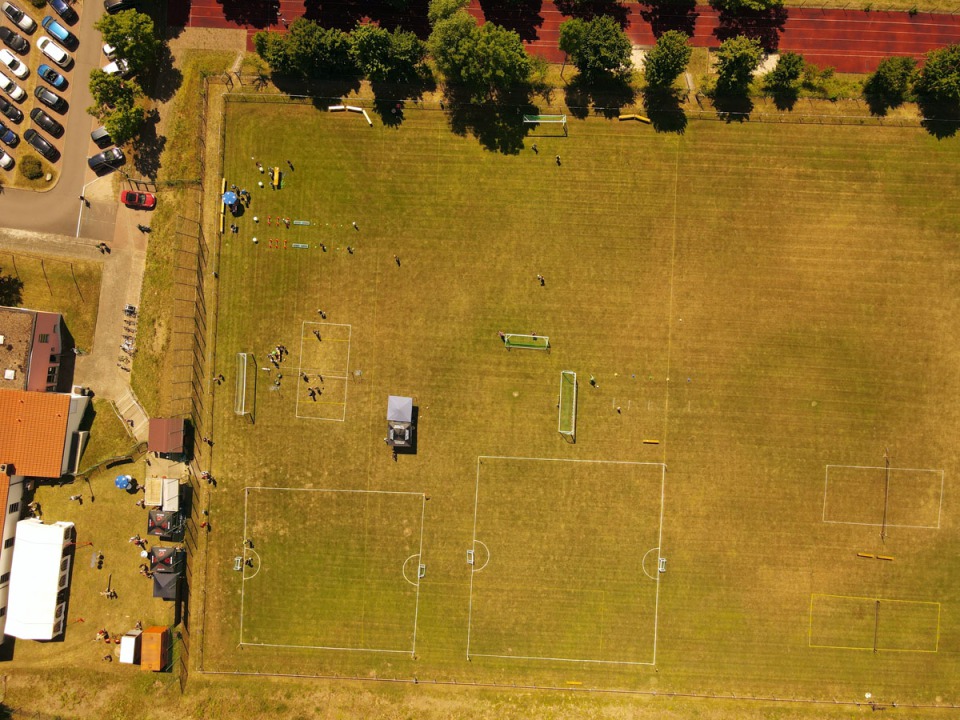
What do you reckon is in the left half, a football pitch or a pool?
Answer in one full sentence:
Visible in the left half is a football pitch.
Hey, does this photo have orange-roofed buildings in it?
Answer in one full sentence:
Yes, there is an orange-roofed building in the image.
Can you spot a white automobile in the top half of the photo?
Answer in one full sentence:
Yes, in the top half of the photo there is a white automobile.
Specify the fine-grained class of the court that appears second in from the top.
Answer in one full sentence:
It turns out the court that appears second in from the top is a tennis court.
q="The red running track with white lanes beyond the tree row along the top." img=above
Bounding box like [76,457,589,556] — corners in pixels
[162,0,960,78]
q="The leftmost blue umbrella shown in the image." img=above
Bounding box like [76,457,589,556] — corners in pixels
[115,475,133,488]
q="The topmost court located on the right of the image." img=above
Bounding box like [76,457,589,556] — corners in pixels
[823,465,944,528]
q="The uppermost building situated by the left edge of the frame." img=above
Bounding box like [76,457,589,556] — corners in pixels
[0,303,79,392]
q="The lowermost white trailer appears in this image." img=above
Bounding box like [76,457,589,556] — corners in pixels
[120,616,142,664]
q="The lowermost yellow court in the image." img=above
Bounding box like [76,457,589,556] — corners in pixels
[809,594,940,652]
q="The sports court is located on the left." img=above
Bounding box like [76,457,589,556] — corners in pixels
[296,322,352,420]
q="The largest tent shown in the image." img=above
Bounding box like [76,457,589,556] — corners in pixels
[4,521,74,646]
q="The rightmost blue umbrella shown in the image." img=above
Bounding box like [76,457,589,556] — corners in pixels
[222,191,237,205]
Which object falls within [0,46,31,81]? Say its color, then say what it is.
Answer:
white car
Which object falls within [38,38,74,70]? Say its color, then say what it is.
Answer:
white car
